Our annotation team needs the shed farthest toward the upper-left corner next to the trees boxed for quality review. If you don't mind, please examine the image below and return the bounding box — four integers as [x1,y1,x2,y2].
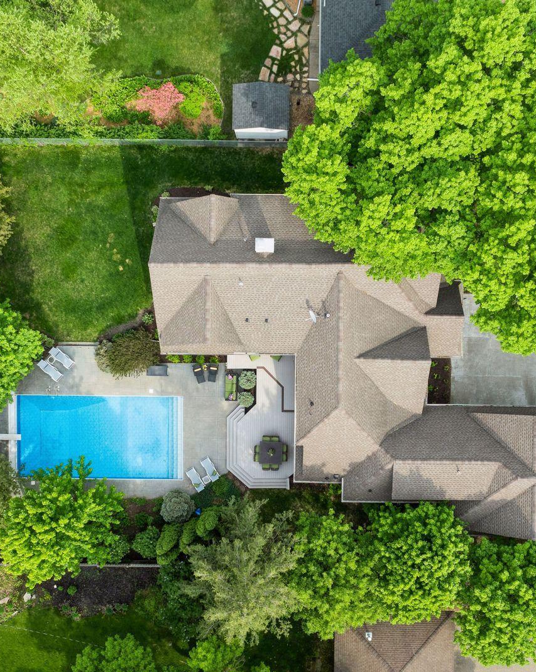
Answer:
[232,82,290,139]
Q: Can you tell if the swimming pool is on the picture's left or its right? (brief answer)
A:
left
